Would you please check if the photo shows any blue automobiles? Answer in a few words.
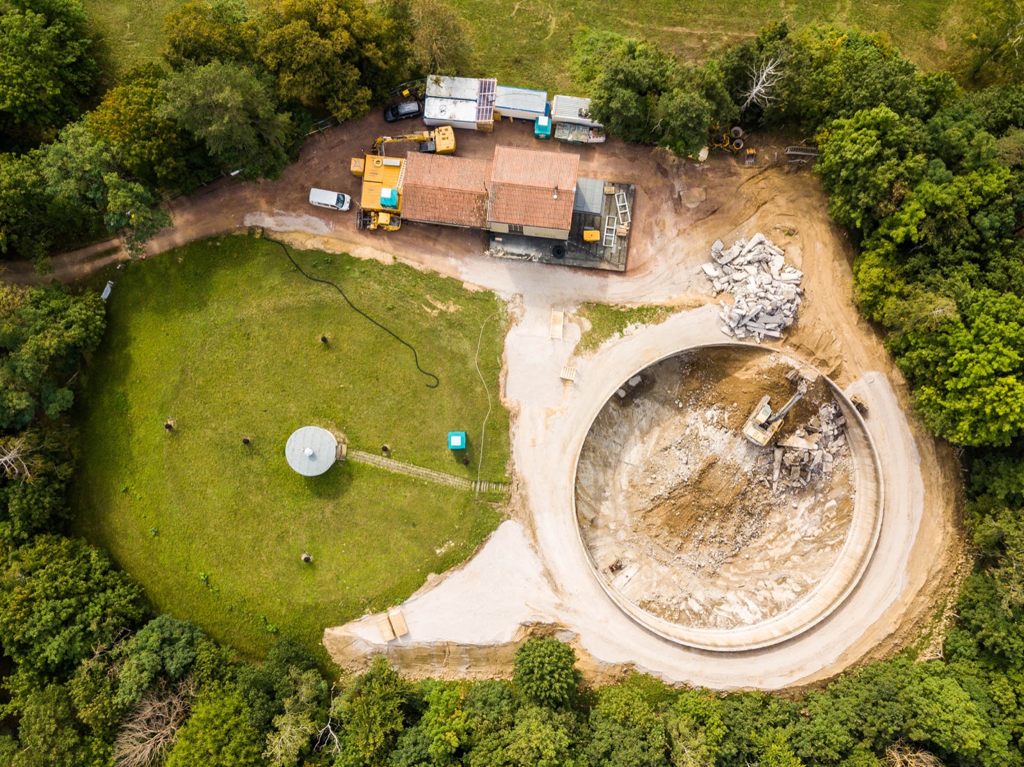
No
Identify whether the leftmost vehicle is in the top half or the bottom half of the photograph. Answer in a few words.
top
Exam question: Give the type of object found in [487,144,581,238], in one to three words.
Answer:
house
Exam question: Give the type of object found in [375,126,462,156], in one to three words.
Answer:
work vehicle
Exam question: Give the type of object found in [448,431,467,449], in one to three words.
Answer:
building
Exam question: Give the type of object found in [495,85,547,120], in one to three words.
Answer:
building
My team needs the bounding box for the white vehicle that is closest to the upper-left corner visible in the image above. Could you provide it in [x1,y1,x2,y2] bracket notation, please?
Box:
[307,185,350,209]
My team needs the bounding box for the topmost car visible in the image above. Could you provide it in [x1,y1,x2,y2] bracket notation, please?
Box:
[382,96,422,122]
